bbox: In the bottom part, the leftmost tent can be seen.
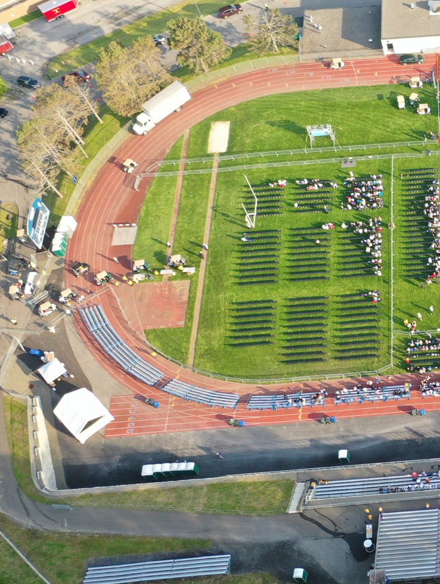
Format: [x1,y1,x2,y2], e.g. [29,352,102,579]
[38,359,74,390]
